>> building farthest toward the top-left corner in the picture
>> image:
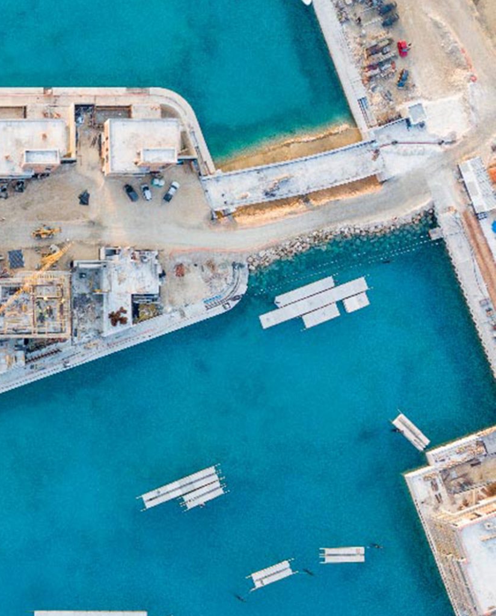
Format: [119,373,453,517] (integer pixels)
[0,105,67,181]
